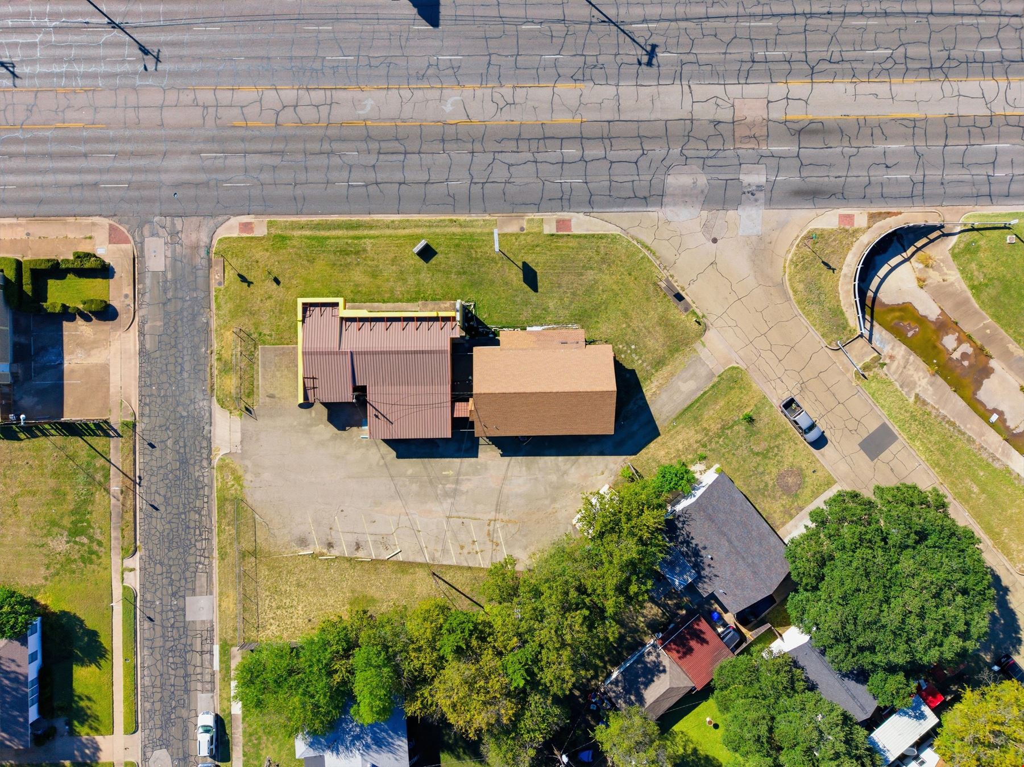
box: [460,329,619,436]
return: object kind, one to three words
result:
building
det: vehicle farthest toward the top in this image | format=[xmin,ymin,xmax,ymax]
[782,394,824,443]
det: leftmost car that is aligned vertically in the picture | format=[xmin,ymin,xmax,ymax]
[193,713,215,763]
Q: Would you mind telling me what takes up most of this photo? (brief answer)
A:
paved ground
